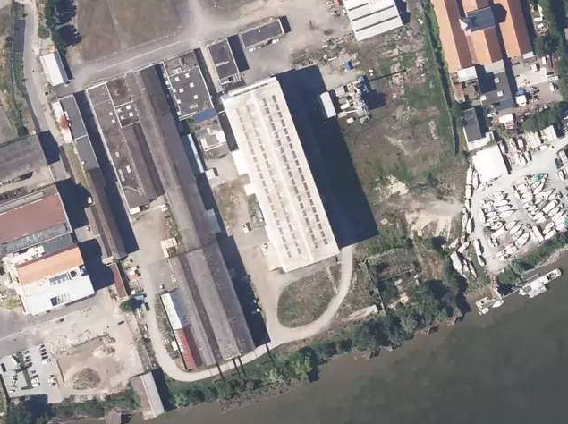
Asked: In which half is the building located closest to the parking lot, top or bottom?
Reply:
bottom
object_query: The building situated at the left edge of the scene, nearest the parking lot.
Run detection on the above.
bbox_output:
[22,266,97,315]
